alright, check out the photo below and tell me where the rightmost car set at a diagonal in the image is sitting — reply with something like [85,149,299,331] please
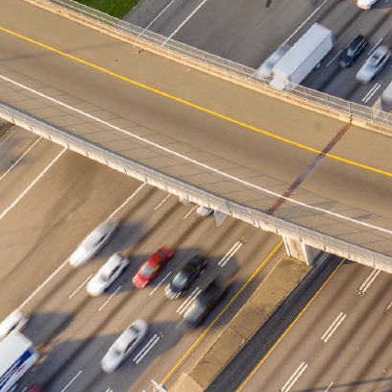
[357,48,391,81]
